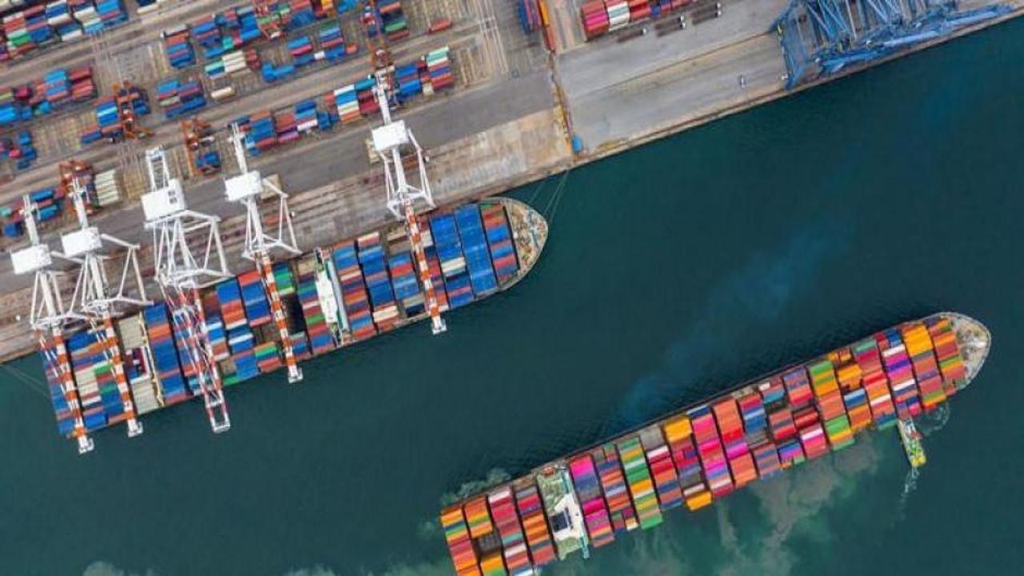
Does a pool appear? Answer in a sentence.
No, the picture doesn't show any pool.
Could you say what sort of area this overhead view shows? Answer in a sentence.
The picture captures a port.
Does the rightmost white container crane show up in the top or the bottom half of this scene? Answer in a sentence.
The rightmost white container crane is in the top half of the image.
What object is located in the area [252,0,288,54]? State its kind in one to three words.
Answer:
container crane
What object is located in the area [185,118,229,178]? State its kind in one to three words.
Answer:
container crane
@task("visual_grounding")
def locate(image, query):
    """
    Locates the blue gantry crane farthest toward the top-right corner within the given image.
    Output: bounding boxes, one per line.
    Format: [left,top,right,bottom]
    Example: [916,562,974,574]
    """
[921,0,1005,41]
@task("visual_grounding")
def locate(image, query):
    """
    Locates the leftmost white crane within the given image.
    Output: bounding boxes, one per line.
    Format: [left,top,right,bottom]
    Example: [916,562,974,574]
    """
[14,193,103,450]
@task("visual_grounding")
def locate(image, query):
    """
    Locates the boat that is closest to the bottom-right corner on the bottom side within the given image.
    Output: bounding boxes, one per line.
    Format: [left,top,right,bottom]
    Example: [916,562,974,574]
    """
[897,416,927,468]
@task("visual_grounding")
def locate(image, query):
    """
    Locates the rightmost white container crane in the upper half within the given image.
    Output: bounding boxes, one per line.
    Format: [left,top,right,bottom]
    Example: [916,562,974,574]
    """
[375,69,443,331]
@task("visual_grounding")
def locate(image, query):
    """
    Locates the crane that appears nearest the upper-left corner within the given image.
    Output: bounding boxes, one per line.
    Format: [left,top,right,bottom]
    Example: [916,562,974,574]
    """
[110,86,156,146]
